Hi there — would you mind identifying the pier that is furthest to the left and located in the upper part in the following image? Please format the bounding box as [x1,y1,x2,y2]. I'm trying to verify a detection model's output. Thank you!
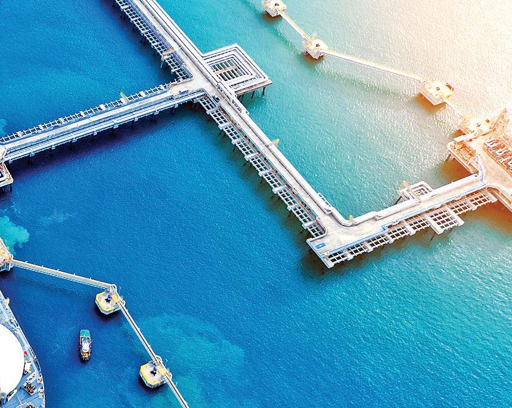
[1,81,210,167]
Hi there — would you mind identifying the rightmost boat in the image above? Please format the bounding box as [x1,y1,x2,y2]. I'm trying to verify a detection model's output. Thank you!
[78,329,90,362]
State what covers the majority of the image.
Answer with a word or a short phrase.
water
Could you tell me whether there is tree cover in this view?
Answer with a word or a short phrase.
No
